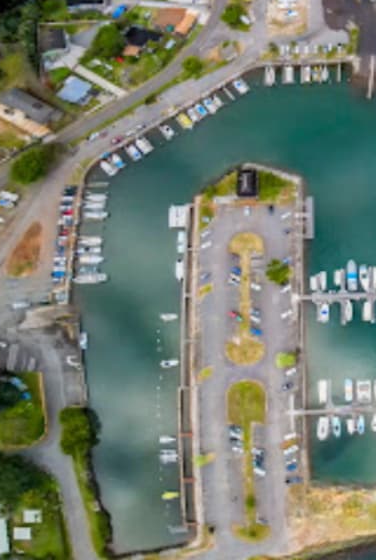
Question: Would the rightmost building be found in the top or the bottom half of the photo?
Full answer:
You can find the rightmost building in the top half.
